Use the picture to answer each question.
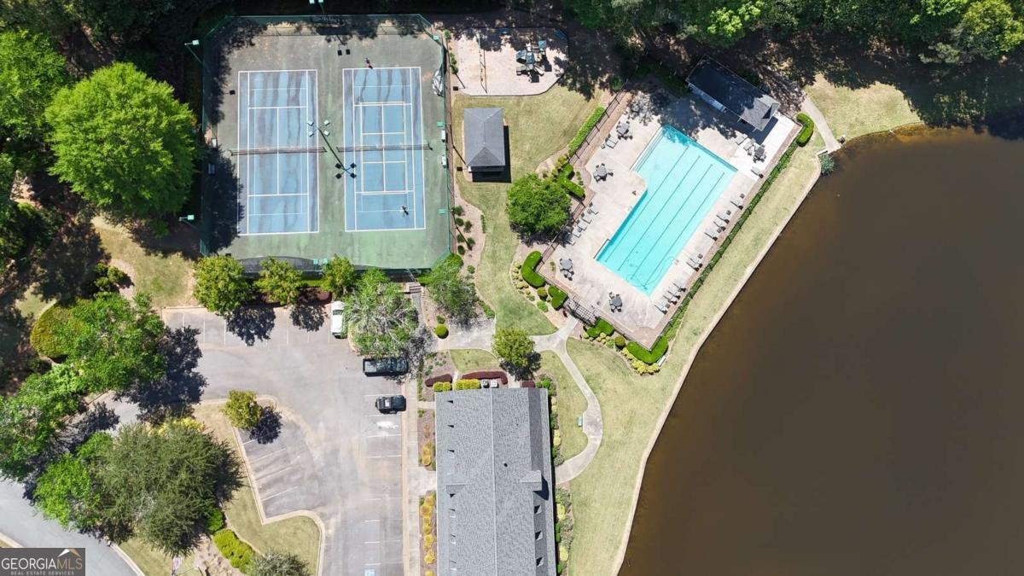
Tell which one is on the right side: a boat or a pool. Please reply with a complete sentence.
What appears on the right side is a pool.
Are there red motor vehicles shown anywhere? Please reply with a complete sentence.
No, the frame has no red motor vehicle in it.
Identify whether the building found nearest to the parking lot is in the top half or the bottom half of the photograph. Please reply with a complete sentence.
You can find the building found nearest to the parking lot in the bottom half.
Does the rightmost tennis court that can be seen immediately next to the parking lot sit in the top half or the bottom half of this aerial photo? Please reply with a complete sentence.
The top half of the photo is where the rightmost tennis court that can be seen immediately next to the parking lot is.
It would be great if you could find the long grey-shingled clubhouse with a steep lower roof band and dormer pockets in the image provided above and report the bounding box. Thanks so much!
[434,386,554,576]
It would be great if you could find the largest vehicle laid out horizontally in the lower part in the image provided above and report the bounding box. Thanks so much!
[364,356,408,375]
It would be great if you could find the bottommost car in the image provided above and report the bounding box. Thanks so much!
[376,395,408,411]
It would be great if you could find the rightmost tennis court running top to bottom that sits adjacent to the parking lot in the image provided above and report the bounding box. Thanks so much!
[343,67,425,231]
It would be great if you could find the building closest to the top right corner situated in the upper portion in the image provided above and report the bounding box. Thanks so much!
[682,58,779,136]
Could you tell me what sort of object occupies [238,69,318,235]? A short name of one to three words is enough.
tennis court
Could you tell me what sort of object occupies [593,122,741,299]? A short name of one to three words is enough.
swimming pool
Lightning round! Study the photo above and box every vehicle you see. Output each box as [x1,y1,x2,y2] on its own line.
[376,395,408,411]
[328,302,346,339]
[364,356,408,375]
